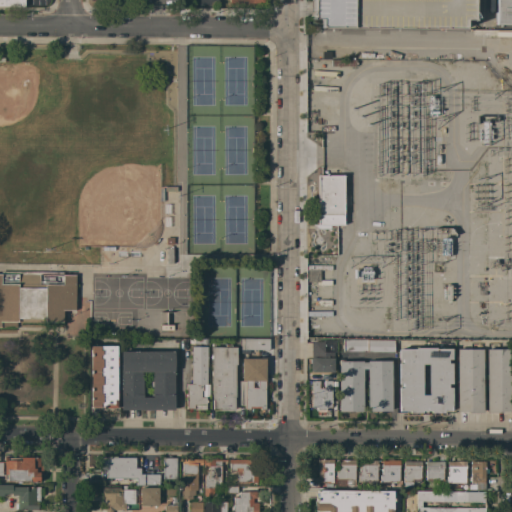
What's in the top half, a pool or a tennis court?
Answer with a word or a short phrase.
tennis court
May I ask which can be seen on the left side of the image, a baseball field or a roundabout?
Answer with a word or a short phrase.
baseball field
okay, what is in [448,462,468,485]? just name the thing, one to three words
house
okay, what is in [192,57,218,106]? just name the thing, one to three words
tennis court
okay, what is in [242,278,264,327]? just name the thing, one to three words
tennis court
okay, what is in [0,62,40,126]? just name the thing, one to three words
baseball field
